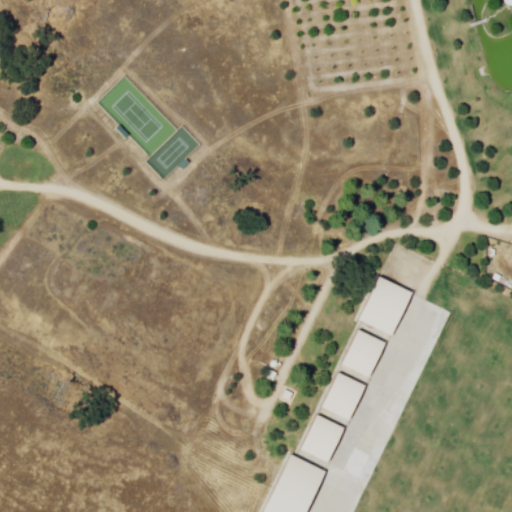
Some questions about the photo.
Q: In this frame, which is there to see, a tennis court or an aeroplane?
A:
tennis court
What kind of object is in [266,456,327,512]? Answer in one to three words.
hangar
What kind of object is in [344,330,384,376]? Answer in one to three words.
hangar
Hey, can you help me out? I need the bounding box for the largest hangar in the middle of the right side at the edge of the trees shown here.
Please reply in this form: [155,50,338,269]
[358,276,412,334]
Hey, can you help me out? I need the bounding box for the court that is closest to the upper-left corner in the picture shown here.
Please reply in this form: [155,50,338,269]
[98,76,178,156]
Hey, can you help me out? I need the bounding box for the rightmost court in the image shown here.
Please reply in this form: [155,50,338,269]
[146,126,200,180]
